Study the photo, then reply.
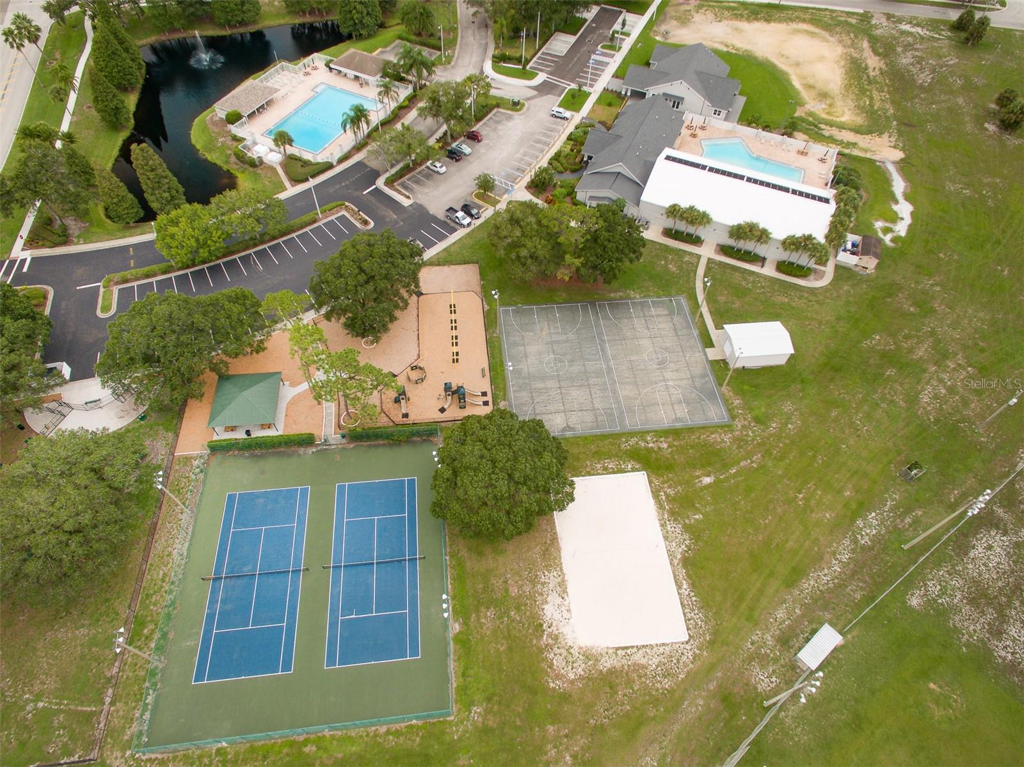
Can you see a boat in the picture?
No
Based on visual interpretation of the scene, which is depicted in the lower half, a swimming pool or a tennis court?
tennis court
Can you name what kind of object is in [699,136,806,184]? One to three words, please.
swimming pool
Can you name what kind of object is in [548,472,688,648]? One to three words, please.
sports court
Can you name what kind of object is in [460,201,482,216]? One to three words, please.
car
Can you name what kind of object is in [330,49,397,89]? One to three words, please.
building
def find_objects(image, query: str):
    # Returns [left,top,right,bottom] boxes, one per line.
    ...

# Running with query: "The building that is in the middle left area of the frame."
[208,373,284,434]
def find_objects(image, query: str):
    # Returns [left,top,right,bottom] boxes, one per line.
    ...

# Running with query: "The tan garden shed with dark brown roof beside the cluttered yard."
[860,238,888,271]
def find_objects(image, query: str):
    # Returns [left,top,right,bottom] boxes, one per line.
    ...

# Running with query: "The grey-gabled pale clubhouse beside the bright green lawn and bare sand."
[617,43,743,118]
